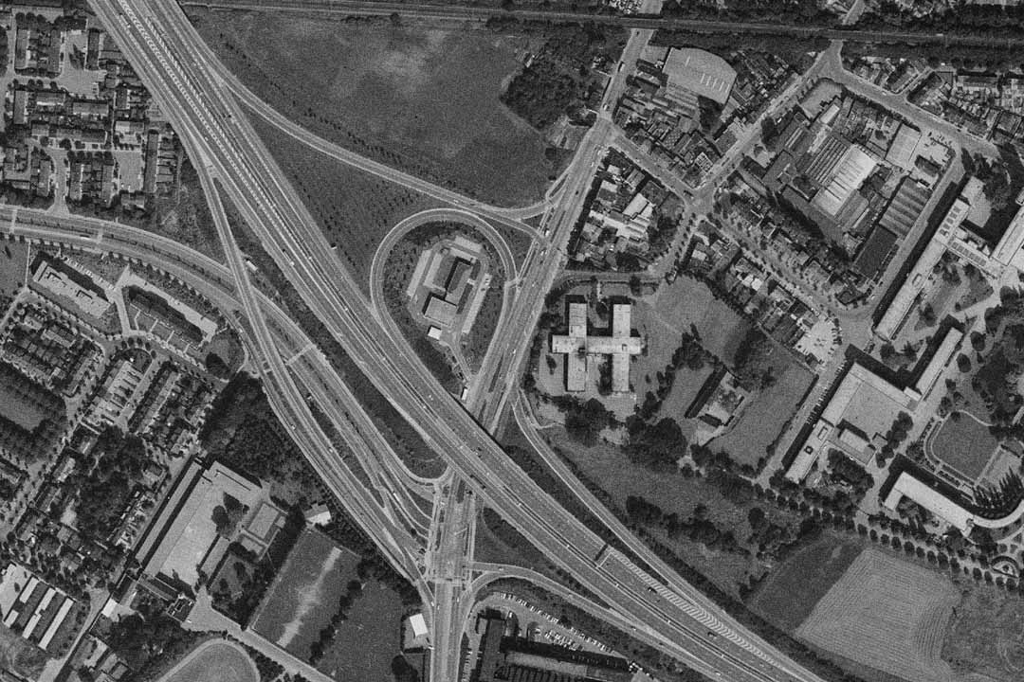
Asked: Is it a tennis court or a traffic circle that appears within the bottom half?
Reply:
tennis court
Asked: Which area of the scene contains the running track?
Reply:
bottom left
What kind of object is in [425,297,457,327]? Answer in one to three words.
building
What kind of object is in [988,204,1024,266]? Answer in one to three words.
building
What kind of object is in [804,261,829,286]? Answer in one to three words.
house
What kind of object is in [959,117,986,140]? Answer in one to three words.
house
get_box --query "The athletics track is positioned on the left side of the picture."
[163,641,259,682]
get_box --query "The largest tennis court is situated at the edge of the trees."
[245,501,282,543]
